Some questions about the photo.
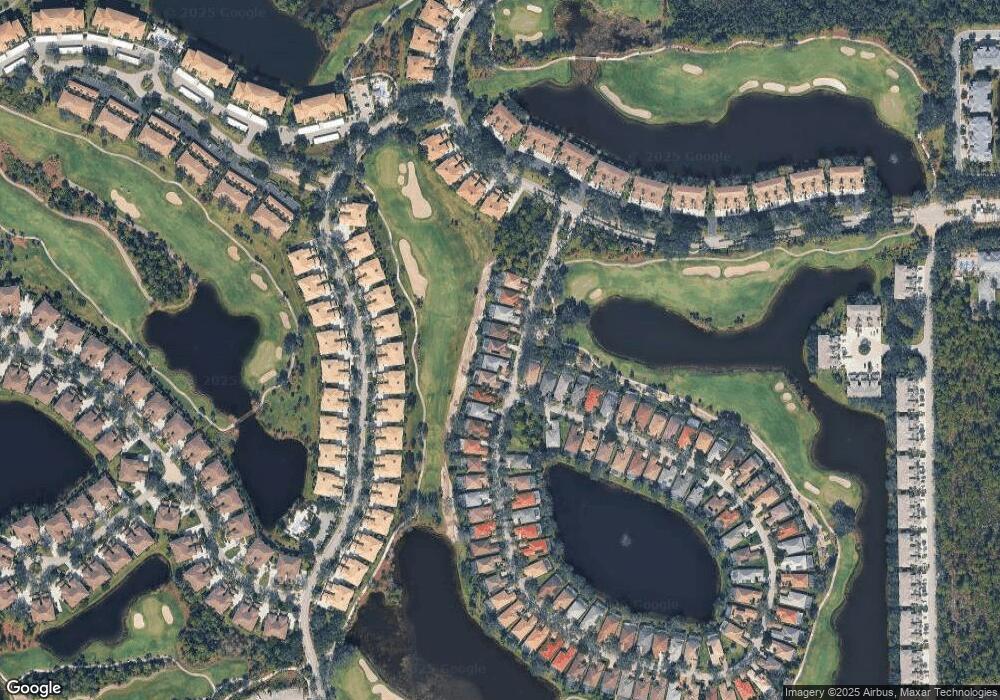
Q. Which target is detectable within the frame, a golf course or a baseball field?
golf course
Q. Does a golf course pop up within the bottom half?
Yes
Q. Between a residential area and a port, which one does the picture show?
residential area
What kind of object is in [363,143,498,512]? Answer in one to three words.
golf course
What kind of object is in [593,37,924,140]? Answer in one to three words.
golf course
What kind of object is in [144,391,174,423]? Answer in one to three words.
house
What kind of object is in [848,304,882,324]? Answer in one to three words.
building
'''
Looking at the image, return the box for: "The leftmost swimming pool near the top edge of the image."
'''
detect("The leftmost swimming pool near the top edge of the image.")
[148,26,182,53]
